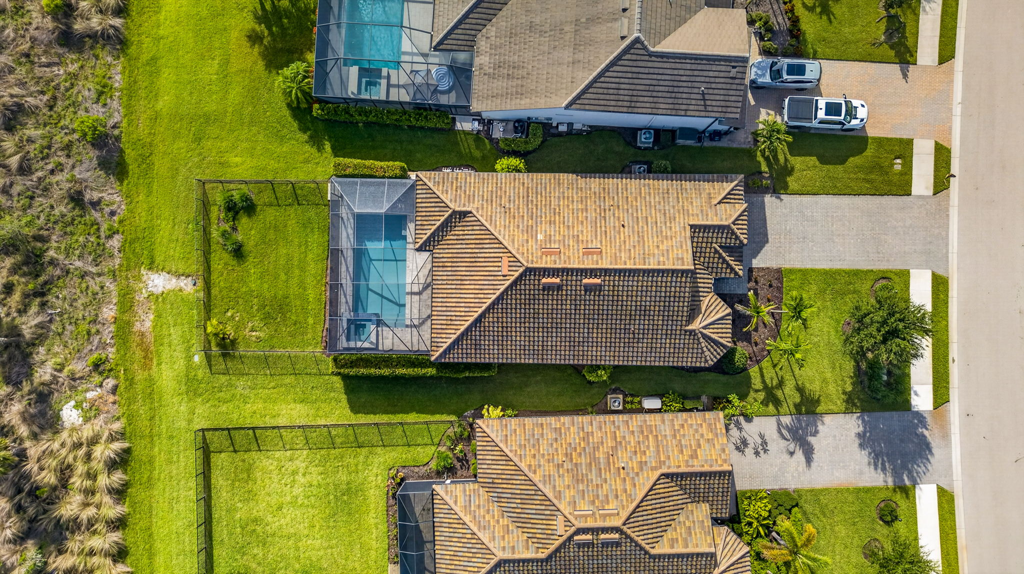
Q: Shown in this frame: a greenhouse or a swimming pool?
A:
swimming pool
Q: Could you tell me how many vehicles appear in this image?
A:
2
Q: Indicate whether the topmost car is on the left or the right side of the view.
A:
right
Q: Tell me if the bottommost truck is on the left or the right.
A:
right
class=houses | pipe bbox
[430,0,753,133]
[414,171,750,368]
[431,411,753,574]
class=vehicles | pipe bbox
[778,93,869,132]
[749,55,821,92]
